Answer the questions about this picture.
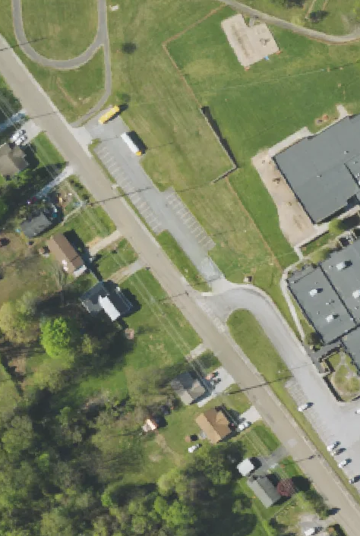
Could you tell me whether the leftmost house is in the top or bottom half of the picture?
top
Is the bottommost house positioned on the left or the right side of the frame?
right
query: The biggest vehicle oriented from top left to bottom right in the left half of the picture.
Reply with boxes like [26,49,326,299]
[122,133,138,155]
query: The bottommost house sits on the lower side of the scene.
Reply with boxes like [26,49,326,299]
[246,472,282,510]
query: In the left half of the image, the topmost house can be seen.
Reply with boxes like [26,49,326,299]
[0,140,29,180]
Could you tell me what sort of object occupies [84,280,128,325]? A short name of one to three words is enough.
house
